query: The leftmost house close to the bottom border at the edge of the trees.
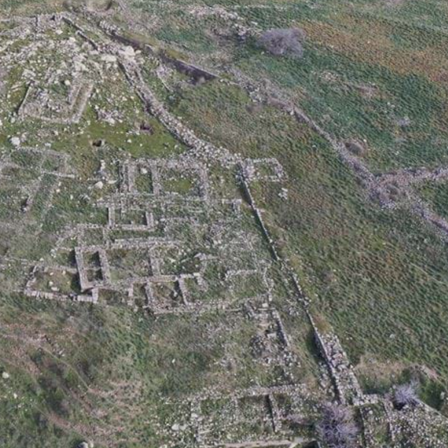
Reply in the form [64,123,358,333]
[188,380,313,448]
